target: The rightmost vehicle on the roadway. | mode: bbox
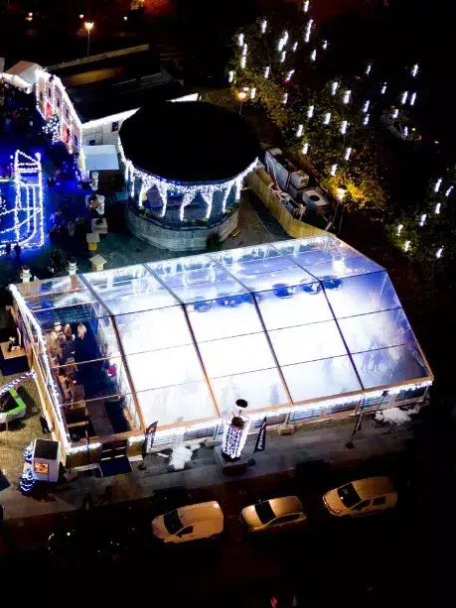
[320,476,406,523]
